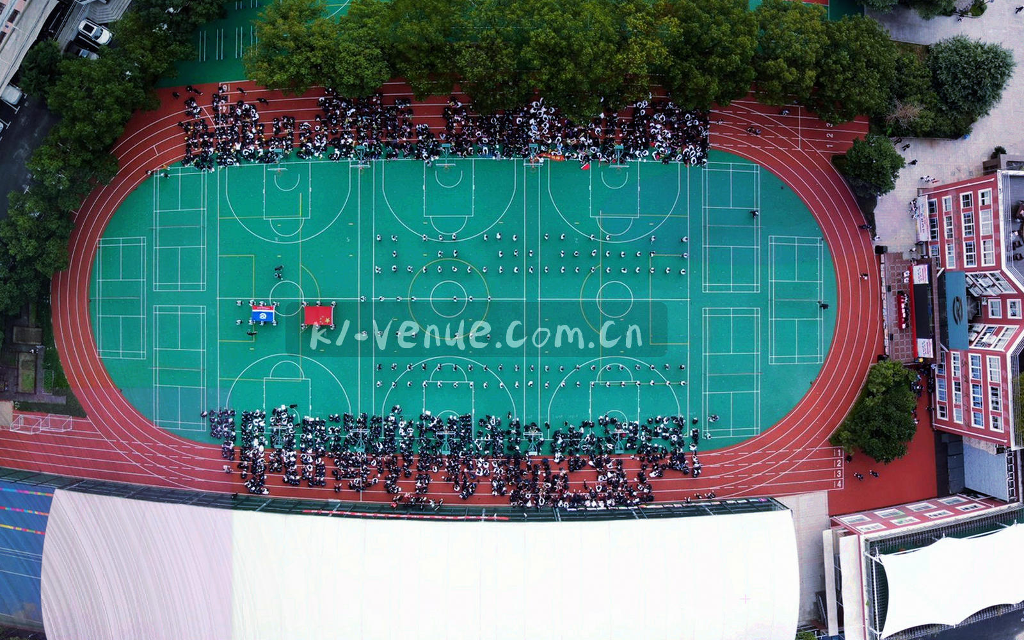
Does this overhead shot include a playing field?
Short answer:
Yes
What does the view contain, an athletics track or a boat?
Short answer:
athletics track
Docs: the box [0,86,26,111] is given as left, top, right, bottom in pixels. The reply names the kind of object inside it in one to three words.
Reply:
car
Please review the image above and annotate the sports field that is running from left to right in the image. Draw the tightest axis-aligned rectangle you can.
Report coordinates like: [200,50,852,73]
[89,141,838,457]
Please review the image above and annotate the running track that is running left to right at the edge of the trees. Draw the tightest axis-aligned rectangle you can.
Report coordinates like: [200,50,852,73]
[4,81,880,505]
